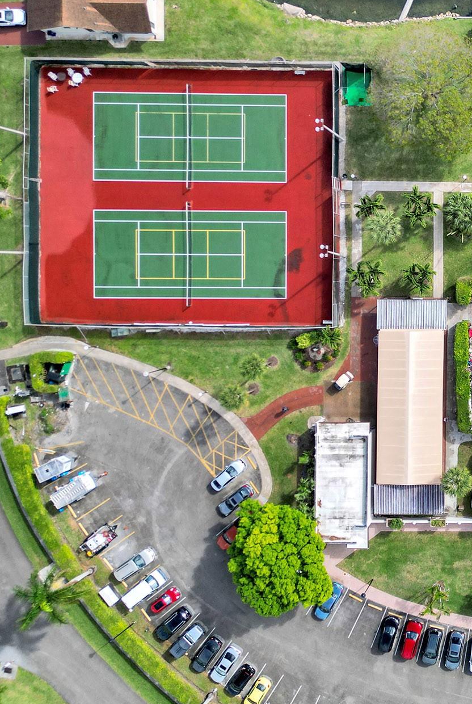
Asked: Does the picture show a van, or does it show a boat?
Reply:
van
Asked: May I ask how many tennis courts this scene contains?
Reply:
two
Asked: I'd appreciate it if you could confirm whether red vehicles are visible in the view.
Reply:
Yes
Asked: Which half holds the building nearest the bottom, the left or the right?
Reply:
right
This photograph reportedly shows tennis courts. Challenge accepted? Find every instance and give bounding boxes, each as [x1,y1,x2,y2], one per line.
[92,202,286,305]
[92,83,286,190]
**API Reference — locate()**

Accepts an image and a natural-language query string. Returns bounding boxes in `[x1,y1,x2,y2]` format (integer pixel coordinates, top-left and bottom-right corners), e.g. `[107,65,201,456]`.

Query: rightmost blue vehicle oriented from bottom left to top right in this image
[314,580,345,621]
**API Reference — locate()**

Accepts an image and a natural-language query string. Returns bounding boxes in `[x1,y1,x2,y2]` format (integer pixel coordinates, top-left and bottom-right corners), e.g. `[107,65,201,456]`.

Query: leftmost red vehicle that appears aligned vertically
[402,618,423,660]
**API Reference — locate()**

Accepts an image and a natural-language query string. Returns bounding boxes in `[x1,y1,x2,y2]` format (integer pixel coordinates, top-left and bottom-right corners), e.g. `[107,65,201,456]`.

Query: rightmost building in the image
[373,299,447,514]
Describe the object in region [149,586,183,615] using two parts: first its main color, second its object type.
red car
